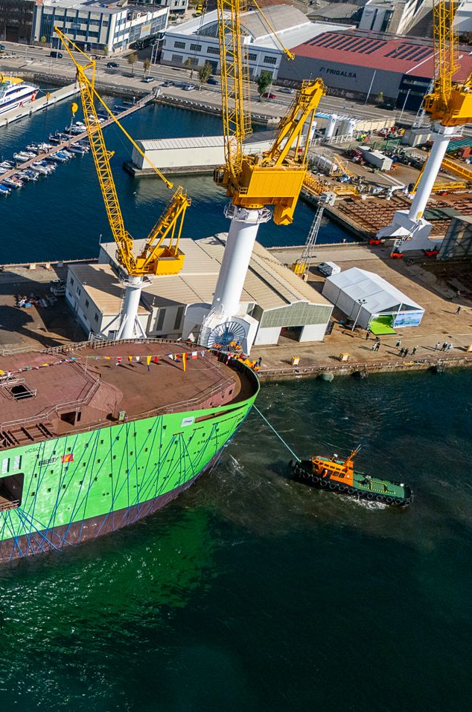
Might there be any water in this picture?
Yes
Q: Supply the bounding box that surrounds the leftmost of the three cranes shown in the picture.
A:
[45,28,195,338]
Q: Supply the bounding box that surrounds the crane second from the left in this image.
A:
[176,0,323,368]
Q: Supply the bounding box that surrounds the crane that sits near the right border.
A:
[353,0,472,247]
